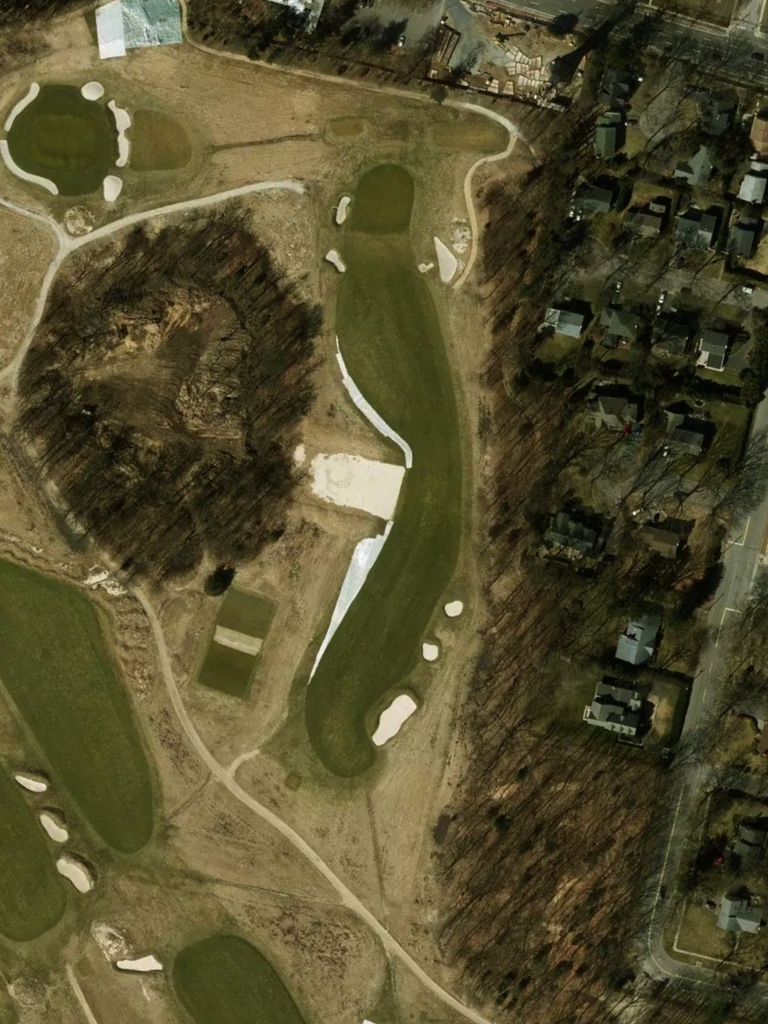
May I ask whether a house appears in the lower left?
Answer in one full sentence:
No, no house can be made out in the lower left.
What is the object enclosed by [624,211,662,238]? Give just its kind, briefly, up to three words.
house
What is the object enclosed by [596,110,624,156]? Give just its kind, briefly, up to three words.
house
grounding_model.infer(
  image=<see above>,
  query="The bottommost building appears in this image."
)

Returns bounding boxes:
[716,894,765,931]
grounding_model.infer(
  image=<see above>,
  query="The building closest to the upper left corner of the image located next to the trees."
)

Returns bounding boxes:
[262,0,322,33]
